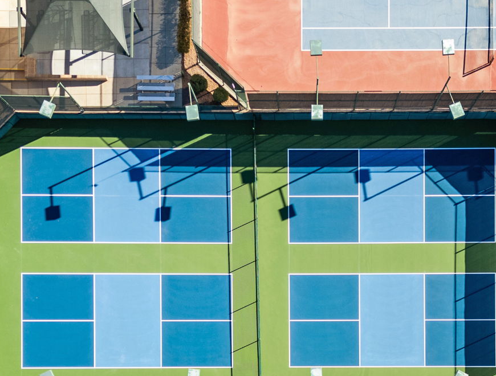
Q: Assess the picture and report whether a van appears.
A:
No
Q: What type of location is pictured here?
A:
sports ground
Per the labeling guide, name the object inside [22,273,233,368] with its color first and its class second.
blue sports court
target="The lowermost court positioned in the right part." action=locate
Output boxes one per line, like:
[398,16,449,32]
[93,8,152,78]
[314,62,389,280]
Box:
[288,273,496,367]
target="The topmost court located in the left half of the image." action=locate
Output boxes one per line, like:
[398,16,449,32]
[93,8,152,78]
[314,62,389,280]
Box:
[22,148,231,243]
